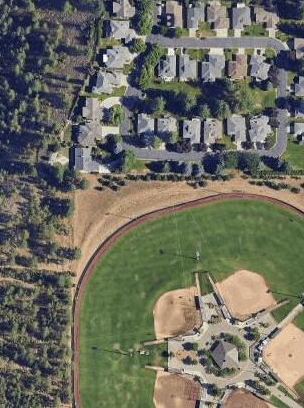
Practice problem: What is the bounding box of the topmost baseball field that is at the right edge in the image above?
[202,193,304,326]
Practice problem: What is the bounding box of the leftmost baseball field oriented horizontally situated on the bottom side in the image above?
[74,357,201,408]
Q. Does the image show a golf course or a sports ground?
sports ground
